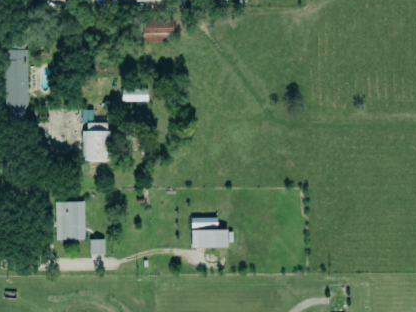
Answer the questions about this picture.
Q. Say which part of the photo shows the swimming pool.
top left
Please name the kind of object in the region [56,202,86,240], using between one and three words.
house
